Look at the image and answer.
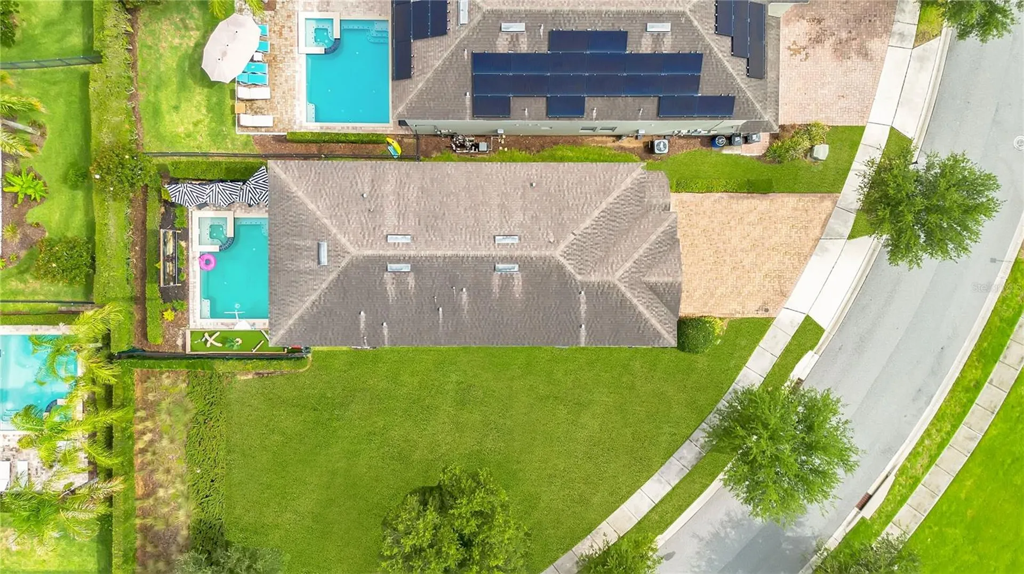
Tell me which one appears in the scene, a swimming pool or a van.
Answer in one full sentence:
I can see a swimming pool in this picture.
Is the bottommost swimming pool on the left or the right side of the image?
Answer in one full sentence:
The bottommost swimming pool appears in the left half of the scene.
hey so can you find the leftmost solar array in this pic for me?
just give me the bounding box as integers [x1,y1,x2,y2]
[394,0,448,79]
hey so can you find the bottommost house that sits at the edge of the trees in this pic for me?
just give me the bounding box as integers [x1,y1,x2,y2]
[267,160,683,348]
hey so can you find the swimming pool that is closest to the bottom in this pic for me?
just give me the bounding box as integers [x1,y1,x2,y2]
[0,328,87,433]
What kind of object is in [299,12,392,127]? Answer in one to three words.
swimming pool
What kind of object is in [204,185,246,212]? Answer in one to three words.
umbrella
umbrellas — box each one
[242,175,268,215]
[167,185,209,211]
[201,13,262,83]
[204,185,246,212]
